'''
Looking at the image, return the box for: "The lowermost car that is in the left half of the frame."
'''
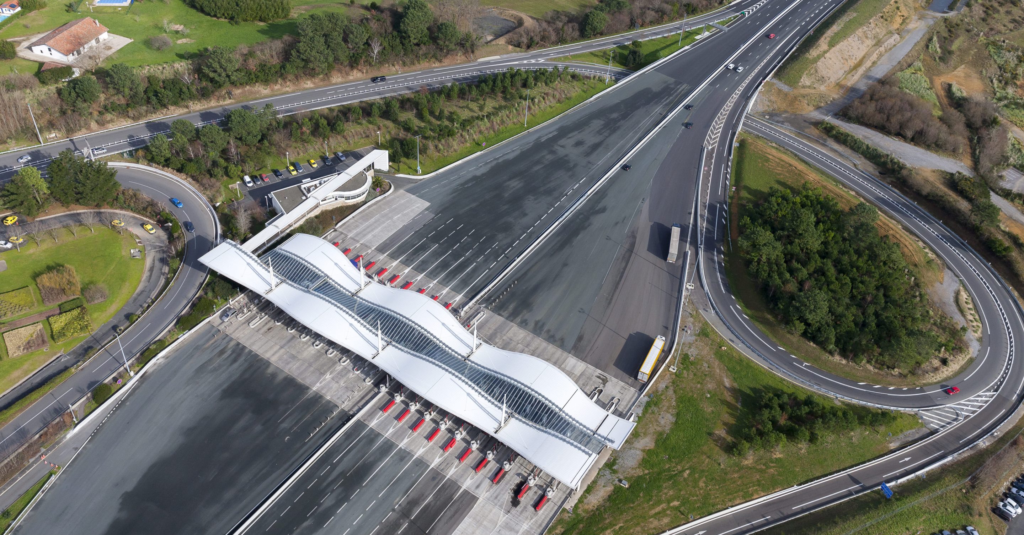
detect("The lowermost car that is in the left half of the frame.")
[220,308,237,322]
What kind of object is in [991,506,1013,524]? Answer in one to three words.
car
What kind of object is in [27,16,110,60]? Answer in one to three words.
house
